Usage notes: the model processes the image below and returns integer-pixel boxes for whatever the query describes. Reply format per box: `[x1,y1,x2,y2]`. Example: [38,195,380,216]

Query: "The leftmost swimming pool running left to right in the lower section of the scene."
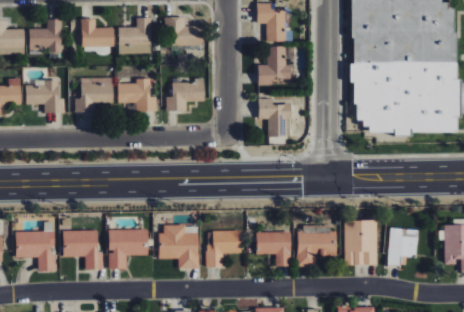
[14,218,55,232]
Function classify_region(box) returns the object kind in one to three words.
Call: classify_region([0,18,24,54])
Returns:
house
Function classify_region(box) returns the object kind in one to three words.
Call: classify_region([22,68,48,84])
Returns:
swimming pool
